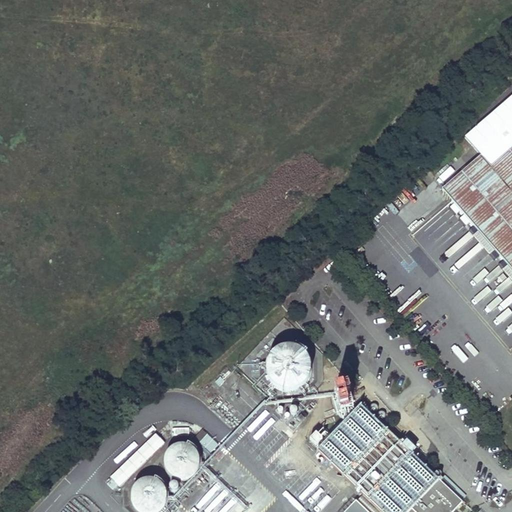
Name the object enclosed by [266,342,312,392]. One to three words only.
storage tank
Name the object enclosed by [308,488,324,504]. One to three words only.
vehicle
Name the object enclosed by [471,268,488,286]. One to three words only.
vehicle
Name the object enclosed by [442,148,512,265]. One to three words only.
building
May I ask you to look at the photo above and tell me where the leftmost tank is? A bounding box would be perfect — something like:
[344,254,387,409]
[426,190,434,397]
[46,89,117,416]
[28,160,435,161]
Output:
[130,475,169,512]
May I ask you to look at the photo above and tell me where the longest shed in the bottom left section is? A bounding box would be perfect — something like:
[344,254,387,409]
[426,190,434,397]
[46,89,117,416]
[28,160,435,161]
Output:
[111,433,165,487]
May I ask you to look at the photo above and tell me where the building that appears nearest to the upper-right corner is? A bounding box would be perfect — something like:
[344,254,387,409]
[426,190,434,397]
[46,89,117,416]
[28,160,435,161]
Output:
[465,94,512,166]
